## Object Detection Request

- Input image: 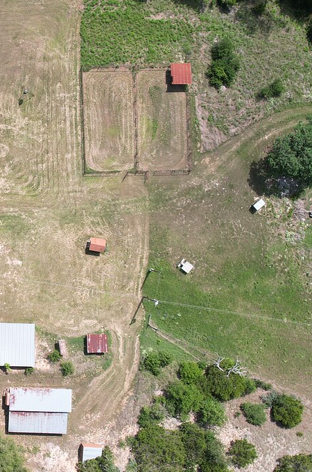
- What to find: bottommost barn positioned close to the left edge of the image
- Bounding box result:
[4,386,74,435]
